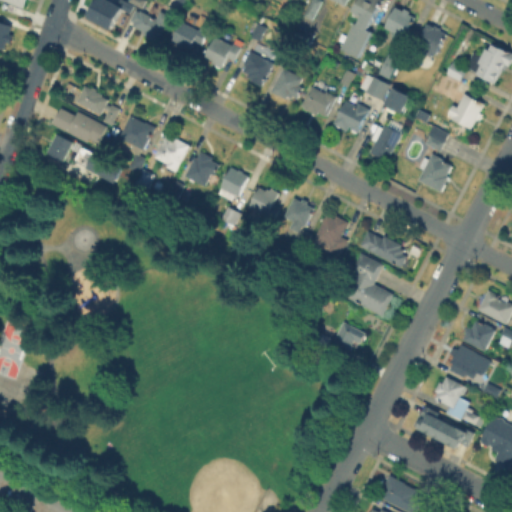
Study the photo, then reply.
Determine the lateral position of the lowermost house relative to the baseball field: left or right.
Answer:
to its right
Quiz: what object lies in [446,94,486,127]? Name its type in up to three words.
house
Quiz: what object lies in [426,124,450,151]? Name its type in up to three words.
building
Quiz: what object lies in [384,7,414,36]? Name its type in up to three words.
house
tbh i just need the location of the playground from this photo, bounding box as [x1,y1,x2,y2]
[73,268,120,317]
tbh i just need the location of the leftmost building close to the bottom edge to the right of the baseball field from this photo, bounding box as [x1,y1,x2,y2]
[382,476,420,512]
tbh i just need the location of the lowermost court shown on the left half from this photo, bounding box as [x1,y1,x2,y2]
[0,324,25,378]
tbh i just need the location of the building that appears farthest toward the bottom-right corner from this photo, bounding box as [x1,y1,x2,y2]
[482,418,512,465]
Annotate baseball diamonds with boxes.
[190,456,279,512]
